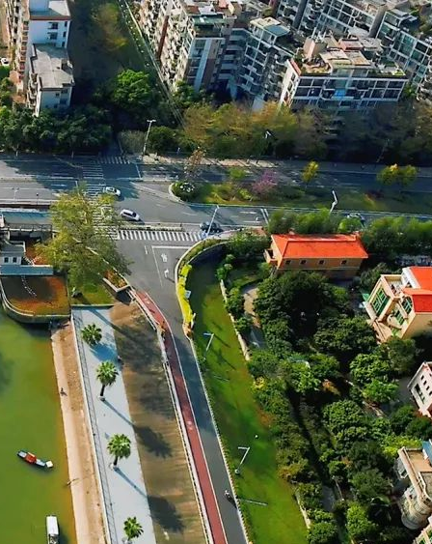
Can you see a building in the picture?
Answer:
Yes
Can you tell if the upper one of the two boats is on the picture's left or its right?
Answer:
left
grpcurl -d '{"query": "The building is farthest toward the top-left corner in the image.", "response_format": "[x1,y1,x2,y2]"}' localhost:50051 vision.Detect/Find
[11,0,74,131]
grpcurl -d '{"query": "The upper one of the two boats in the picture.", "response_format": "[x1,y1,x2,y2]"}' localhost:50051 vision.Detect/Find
[15,447,54,468]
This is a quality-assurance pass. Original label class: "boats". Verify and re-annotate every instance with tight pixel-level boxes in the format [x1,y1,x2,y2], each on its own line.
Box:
[47,510,60,544]
[15,447,54,468]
